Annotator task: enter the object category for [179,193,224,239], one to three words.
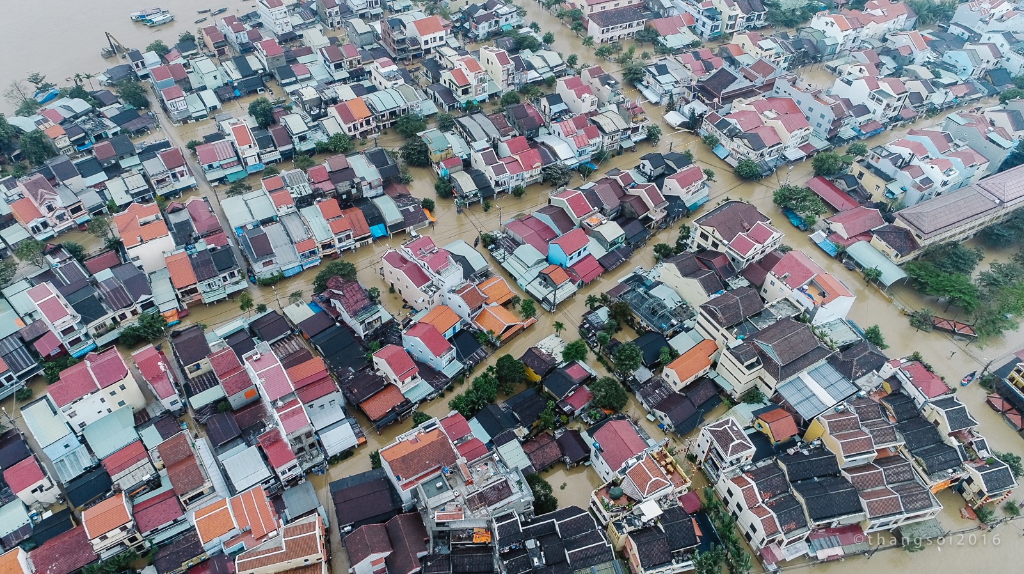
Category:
house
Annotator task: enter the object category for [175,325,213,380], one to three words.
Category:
house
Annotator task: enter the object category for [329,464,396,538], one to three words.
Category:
shed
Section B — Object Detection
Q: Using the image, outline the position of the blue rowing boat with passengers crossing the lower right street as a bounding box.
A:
[960,369,978,387]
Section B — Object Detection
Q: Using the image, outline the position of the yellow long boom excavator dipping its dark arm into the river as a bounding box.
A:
[106,32,134,57]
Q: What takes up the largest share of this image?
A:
buildings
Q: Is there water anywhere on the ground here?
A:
Yes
